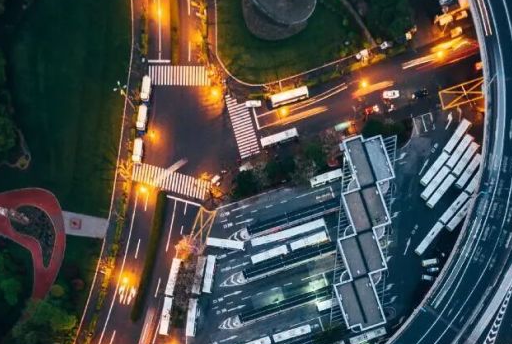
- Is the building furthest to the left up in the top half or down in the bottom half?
top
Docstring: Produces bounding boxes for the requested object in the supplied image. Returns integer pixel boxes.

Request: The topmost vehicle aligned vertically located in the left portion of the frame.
[141,73,153,103]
